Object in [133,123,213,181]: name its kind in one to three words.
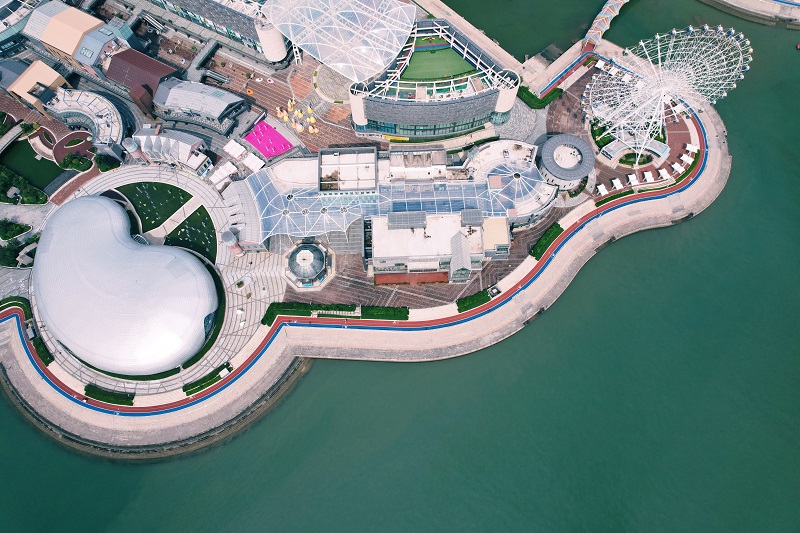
house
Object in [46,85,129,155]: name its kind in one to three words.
building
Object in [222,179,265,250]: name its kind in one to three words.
building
